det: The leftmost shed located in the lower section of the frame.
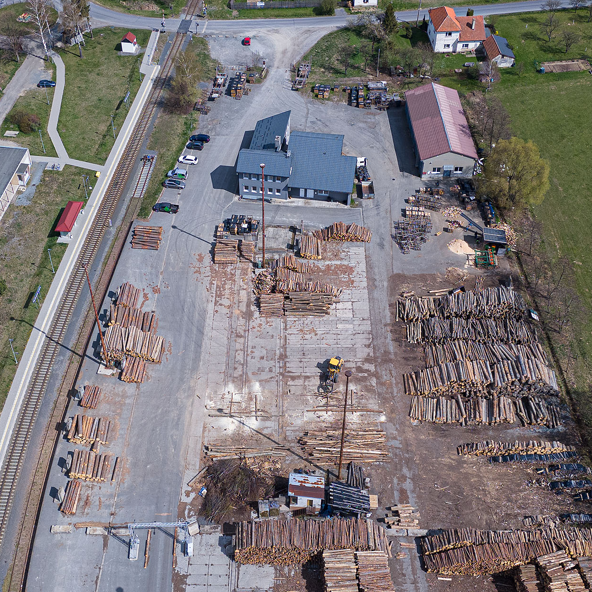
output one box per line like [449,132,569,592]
[286,472,324,517]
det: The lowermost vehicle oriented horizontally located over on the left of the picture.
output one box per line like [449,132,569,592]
[152,201,179,214]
